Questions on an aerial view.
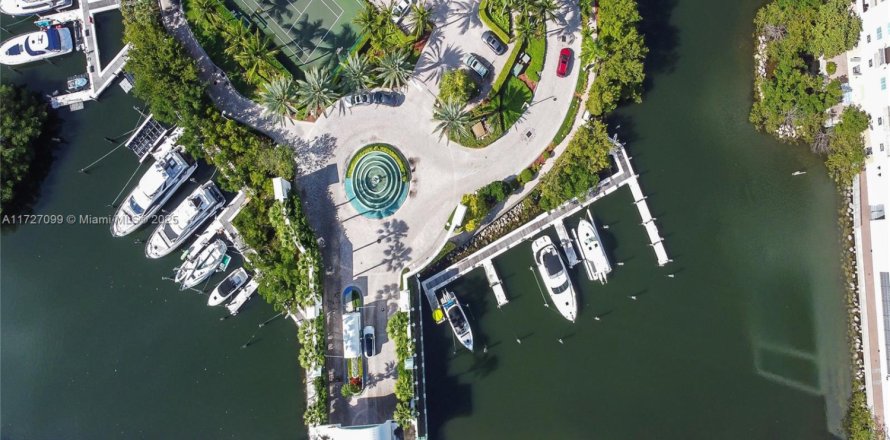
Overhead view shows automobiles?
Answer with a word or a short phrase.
Yes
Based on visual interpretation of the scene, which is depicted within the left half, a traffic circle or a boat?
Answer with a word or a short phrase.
boat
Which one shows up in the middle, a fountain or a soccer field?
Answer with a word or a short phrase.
fountain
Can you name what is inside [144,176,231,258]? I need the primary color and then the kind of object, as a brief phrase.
white boat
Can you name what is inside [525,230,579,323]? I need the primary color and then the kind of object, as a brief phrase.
white boat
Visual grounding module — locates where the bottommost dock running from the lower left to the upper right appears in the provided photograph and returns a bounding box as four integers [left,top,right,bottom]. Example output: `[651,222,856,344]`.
[229,280,265,316]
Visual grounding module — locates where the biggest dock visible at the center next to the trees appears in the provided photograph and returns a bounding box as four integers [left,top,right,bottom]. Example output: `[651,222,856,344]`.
[419,170,637,293]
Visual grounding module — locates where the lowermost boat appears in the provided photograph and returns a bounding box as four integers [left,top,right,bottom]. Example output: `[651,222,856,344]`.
[438,290,474,351]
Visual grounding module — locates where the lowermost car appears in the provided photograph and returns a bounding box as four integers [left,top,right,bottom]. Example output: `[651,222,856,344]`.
[362,325,376,357]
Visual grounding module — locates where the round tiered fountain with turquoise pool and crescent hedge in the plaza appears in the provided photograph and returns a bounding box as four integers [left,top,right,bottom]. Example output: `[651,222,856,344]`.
[342,141,413,221]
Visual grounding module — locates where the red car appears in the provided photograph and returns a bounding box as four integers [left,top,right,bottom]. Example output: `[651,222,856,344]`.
[556,48,574,78]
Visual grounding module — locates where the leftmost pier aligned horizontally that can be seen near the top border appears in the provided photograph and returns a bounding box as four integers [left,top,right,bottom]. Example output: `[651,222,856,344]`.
[35,7,83,28]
